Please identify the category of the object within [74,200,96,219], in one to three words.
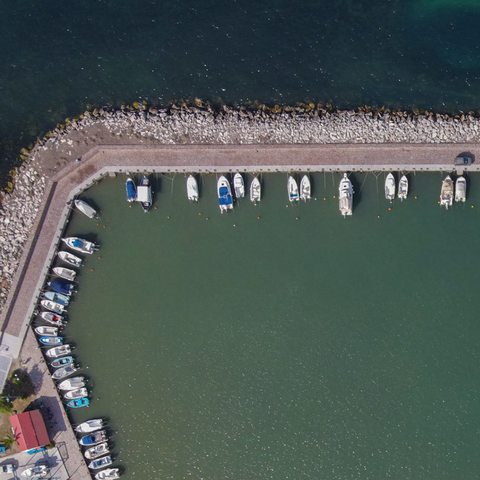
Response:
boat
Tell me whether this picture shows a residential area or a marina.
marina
